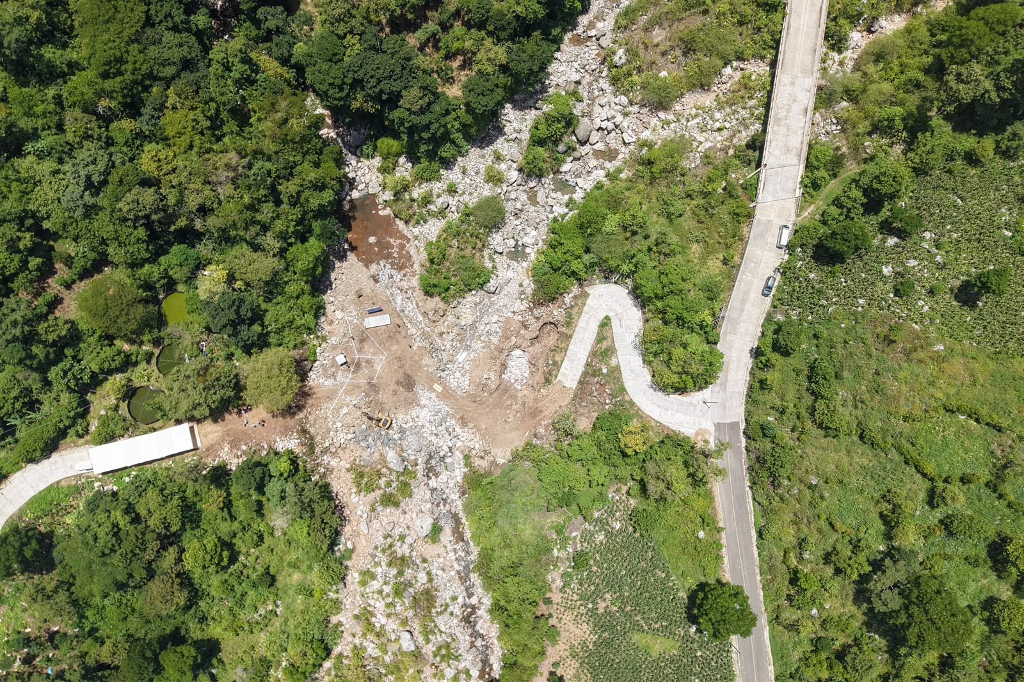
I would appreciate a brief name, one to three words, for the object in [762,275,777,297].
car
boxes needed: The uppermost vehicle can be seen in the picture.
[775,225,791,250]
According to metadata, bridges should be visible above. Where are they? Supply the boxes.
[757,0,828,177]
